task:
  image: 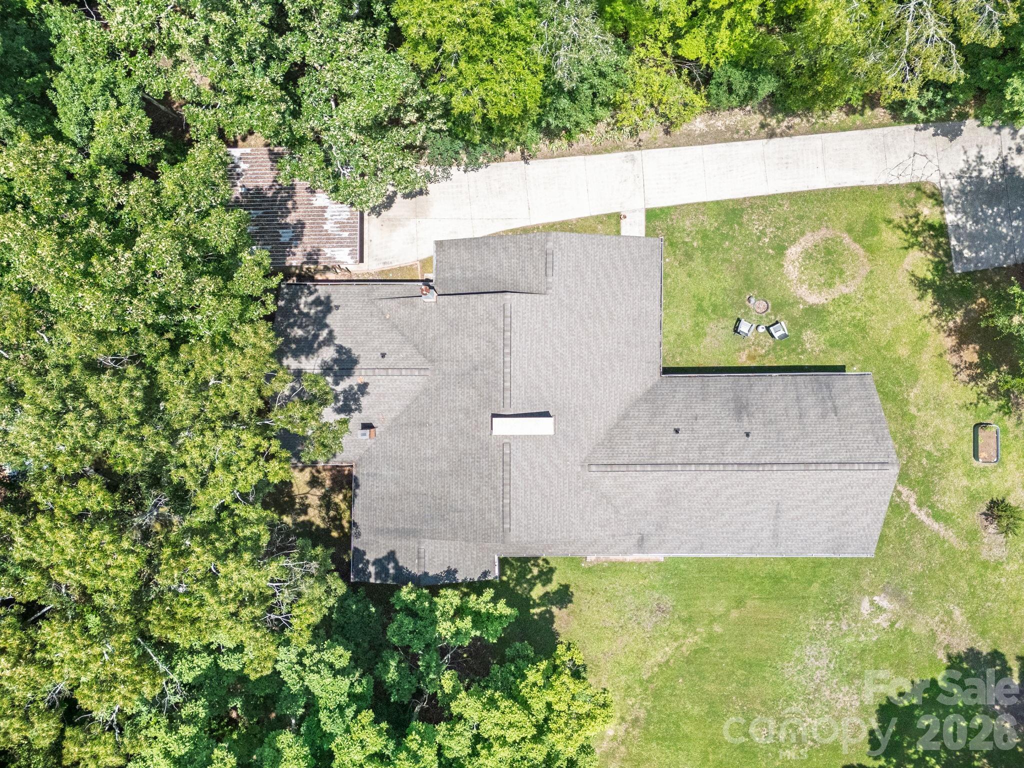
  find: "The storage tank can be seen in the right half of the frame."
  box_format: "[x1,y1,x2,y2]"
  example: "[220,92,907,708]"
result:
[971,423,999,462]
